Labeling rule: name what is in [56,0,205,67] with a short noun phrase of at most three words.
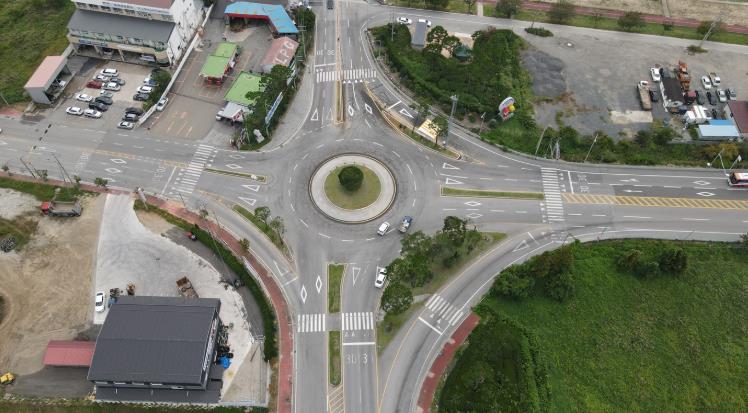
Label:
building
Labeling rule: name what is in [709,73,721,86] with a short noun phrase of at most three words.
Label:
vehicle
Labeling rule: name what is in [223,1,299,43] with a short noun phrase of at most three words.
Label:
building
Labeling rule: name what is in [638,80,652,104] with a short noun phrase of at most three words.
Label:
vehicle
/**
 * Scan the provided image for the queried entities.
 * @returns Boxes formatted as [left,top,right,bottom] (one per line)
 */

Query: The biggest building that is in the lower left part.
[89,298,227,409]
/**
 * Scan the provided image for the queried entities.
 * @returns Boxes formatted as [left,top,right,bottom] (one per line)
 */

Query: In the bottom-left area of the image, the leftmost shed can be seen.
[43,341,99,367]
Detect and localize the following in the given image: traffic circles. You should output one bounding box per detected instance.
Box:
[278,131,427,254]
